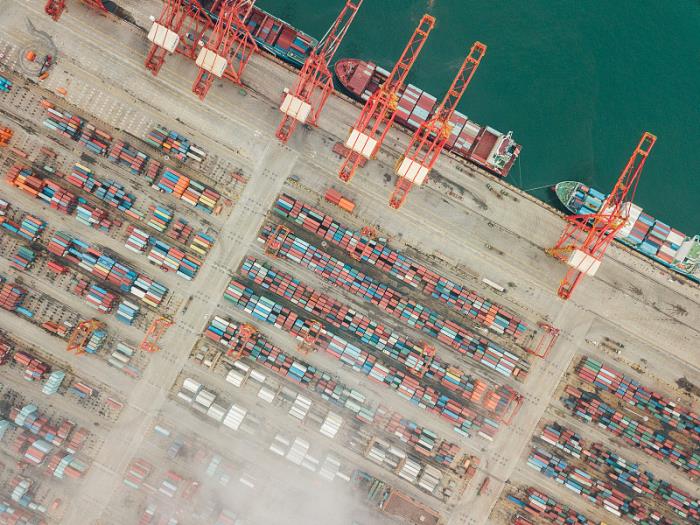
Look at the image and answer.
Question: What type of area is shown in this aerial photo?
port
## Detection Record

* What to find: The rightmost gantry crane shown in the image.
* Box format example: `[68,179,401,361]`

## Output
[546,127,661,304]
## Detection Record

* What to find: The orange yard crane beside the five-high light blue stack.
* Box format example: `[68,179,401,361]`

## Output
[73,319,112,355]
